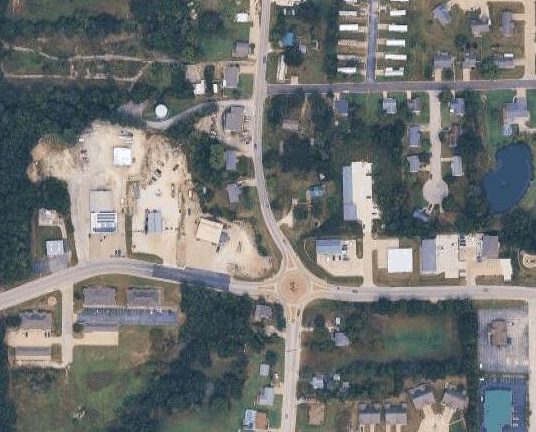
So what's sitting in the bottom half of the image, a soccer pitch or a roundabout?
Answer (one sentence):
You can see a roundabout in the bottom half of the image.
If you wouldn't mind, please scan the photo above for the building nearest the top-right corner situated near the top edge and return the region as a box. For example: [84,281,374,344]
[500,11,515,35]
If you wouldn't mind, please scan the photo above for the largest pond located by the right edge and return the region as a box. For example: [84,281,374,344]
[482,144,533,213]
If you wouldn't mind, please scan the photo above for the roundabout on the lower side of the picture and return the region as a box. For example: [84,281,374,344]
[254,246,343,332]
